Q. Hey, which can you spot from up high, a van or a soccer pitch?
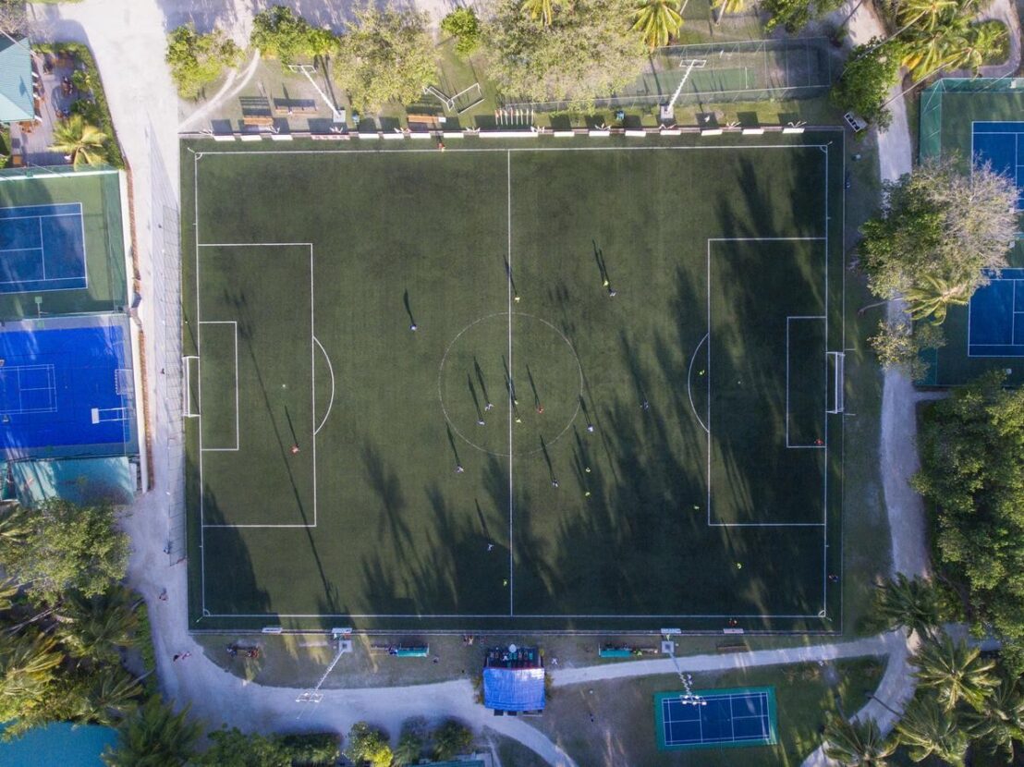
soccer pitch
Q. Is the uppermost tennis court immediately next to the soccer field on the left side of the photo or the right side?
right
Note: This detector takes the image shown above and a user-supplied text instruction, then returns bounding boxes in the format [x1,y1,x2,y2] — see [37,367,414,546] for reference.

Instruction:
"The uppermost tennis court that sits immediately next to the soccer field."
[922,91,1024,236]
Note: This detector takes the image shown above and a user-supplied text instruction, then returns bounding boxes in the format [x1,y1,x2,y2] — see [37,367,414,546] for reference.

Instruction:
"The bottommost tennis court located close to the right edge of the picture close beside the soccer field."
[920,237,1024,386]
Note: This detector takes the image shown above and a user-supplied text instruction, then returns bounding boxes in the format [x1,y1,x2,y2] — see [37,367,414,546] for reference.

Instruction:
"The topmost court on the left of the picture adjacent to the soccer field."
[0,170,128,321]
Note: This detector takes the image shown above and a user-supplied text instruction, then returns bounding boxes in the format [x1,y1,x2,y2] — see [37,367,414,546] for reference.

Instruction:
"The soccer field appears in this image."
[178,124,845,637]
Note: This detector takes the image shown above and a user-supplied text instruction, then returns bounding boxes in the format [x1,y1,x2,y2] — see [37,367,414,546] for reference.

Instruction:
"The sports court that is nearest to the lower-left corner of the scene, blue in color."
[0,318,139,458]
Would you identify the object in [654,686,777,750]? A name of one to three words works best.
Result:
sports court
